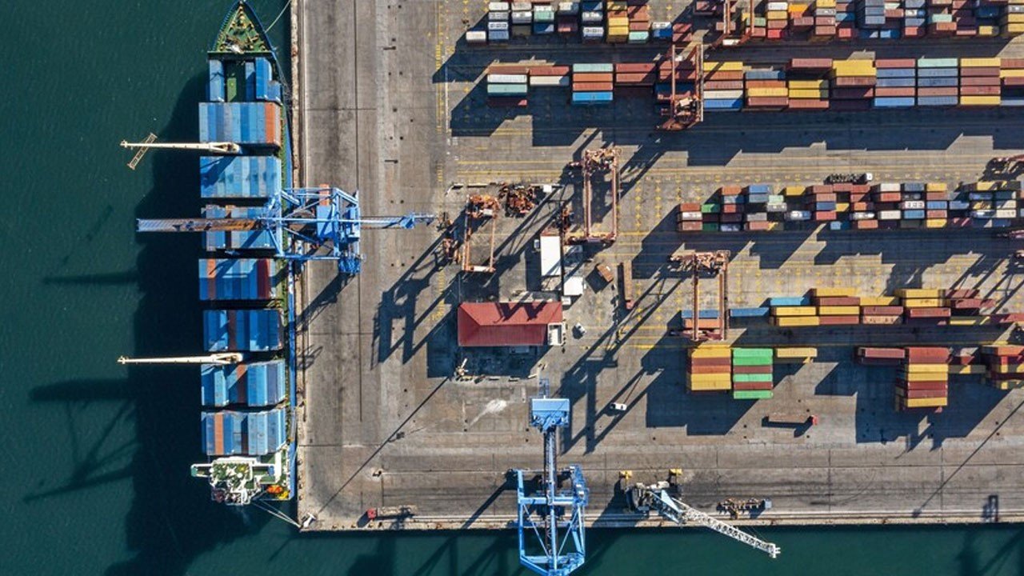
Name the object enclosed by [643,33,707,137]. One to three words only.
container crane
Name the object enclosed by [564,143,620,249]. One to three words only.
container crane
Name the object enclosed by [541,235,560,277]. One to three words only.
shed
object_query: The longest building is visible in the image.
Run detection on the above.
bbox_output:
[457,301,563,354]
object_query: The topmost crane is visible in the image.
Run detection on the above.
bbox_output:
[691,0,758,61]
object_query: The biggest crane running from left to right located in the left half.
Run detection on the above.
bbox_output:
[133,186,449,281]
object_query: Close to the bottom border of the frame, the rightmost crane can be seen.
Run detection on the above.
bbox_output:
[619,469,782,558]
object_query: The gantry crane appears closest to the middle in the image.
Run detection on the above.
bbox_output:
[453,194,505,274]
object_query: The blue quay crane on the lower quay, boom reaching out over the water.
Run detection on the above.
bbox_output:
[504,372,593,576]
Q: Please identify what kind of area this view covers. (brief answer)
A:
port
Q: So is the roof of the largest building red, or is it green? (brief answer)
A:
red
